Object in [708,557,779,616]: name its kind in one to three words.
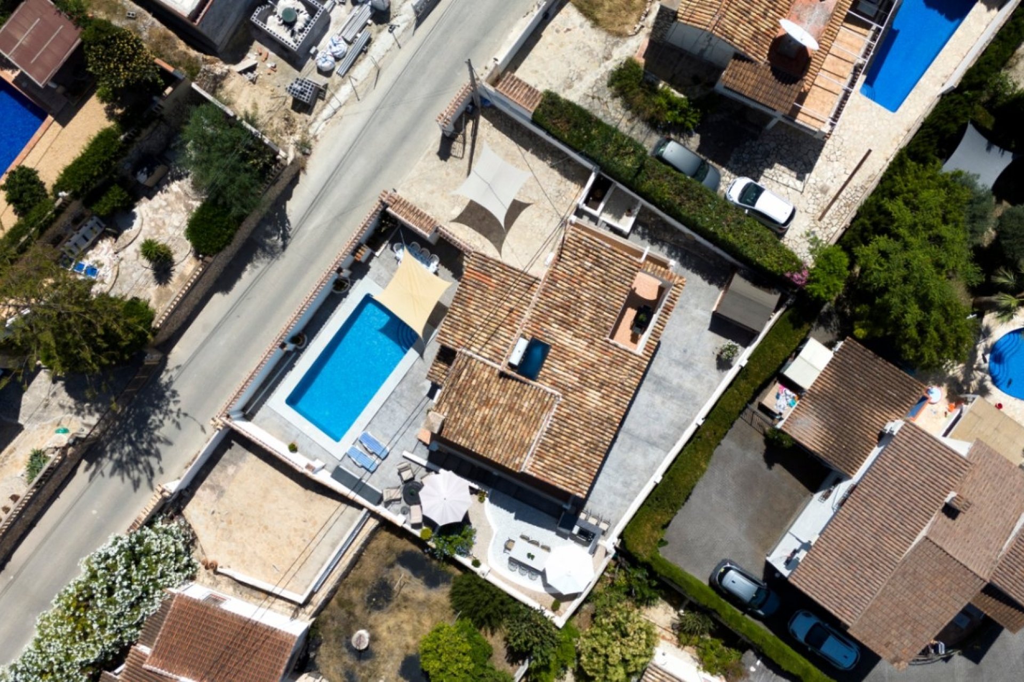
car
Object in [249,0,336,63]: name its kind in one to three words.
storage tank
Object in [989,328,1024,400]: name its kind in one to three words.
swimming pool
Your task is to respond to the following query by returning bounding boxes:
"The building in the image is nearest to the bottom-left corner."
[100,578,322,682]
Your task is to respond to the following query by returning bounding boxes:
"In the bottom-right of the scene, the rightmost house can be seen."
[758,337,1024,673]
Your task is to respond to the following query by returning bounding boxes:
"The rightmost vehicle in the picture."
[784,605,862,670]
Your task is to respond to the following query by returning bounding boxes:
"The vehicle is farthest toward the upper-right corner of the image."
[723,180,796,235]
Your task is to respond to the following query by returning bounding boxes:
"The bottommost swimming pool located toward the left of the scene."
[285,292,432,443]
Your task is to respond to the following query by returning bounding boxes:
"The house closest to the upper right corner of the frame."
[668,0,893,154]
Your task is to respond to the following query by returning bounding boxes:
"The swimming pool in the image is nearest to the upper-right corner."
[860,0,978,112]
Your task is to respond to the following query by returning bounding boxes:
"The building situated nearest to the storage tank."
[160,0,269,53]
